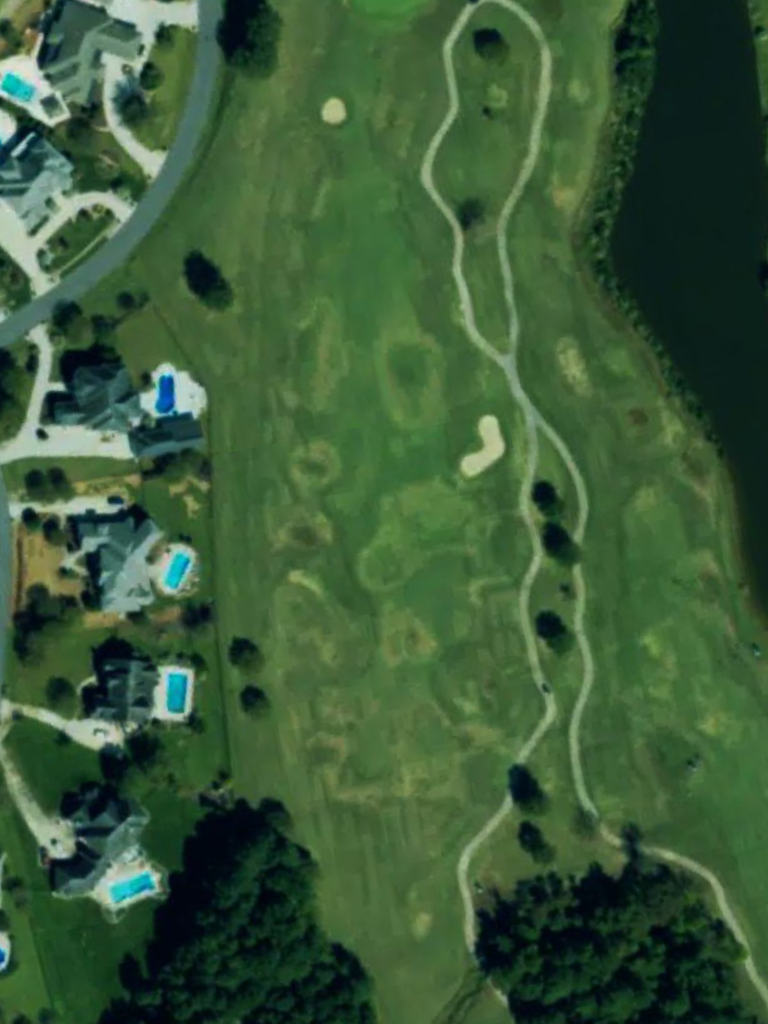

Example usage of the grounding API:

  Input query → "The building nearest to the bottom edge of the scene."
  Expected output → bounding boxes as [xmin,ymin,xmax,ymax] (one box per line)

[46,799,156,904]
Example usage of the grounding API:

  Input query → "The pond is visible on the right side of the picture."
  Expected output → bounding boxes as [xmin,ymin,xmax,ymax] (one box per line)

[611,0,768,631]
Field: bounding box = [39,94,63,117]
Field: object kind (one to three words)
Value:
building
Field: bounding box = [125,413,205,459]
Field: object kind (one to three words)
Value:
building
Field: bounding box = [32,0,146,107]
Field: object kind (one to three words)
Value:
house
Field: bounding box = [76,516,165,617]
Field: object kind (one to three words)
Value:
house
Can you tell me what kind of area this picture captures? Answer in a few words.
golf course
